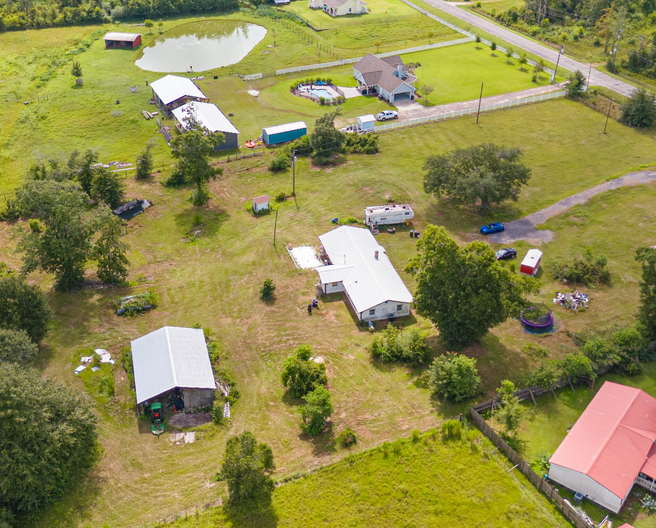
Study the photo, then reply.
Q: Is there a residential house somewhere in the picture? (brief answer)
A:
Yes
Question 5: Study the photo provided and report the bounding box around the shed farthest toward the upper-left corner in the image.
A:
[103,32,140,50]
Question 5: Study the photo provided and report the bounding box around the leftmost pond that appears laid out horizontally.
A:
[136,20,267,72]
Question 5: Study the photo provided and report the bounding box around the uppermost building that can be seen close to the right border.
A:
[548,381,656,514]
